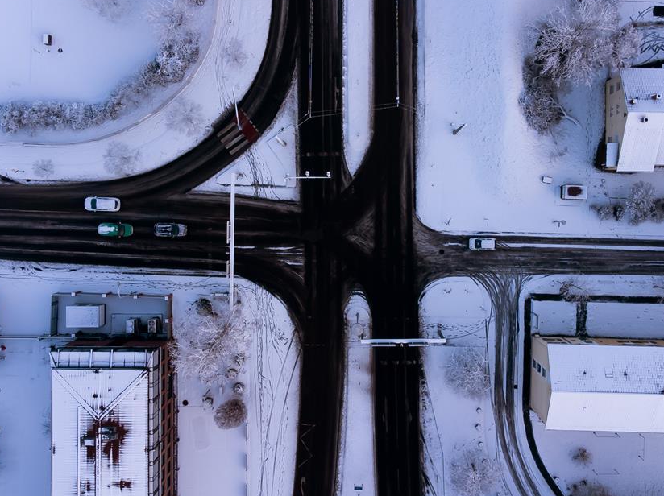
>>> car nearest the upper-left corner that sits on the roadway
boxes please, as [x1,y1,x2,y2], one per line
[84,196,121,213]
